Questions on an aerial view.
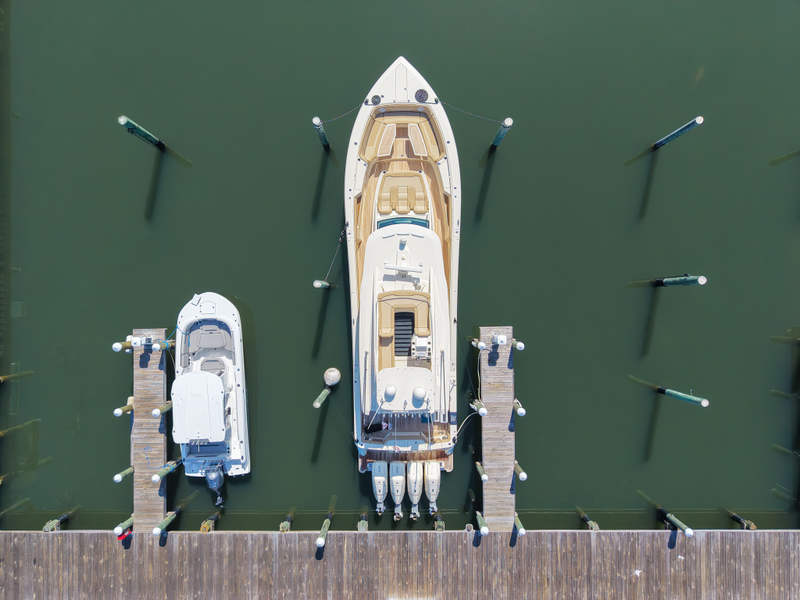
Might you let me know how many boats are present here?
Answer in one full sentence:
My tally gives 2 boats in this view.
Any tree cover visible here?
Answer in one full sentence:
No, there is no tree cover in the image.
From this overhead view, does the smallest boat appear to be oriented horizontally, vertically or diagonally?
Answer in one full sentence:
In this picture, the smallest boat is oriented vertically.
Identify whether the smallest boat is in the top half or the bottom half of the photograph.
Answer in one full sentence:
It is in the bottom half that the smallest boat appears.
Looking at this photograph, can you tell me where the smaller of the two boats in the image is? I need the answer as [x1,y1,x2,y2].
[172,291,252,502]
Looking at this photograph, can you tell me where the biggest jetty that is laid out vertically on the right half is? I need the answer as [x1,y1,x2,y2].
[478,327,515,531]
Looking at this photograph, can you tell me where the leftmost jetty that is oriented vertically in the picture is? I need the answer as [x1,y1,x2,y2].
[132,330,170,531]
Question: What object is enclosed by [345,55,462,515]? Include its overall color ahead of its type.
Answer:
white boat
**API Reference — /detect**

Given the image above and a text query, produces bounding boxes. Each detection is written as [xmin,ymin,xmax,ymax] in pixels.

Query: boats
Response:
[172,291,252,502]
[345,55,462,515]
